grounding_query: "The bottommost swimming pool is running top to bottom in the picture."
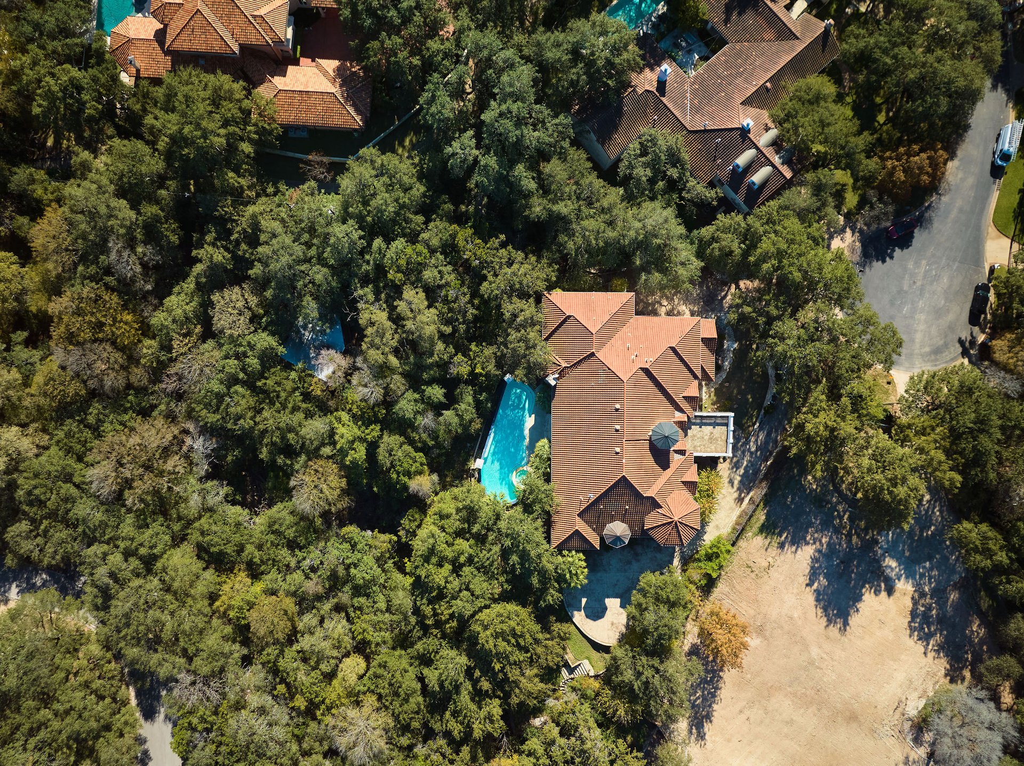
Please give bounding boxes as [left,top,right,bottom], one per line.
[474,373,537,506]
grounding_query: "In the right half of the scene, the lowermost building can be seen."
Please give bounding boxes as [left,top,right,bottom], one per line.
[542,291,718,551]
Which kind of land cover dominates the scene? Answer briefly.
trees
